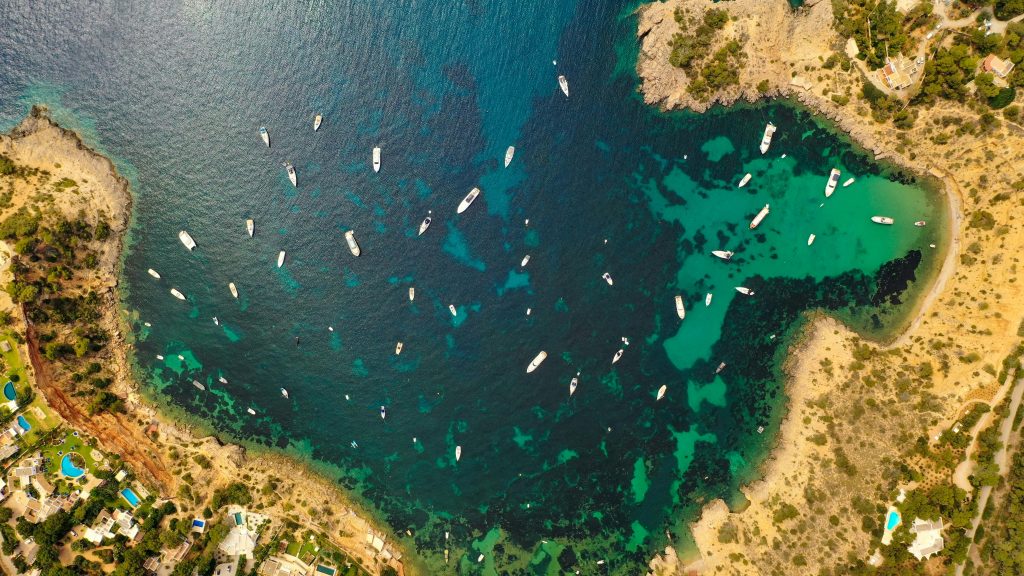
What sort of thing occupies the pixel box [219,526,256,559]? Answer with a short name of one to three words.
house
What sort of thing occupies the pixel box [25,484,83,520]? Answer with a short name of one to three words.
house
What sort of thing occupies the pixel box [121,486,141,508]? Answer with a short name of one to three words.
swimming pool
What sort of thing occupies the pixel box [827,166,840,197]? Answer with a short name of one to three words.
boat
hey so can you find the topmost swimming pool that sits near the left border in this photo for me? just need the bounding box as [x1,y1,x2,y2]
[3,382,18,401]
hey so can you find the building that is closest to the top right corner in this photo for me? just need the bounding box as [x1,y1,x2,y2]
[981,54,1015,76]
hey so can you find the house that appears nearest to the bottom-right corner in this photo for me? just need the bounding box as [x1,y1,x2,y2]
[907,517,943,560]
